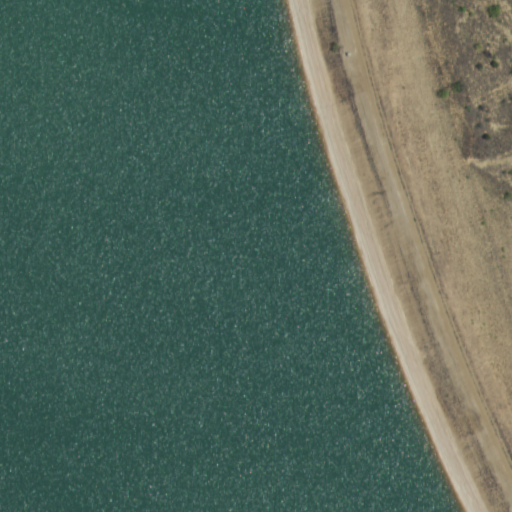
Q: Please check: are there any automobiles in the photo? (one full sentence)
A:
No, no automobile can be seen from above.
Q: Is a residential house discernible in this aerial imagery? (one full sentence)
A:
No, there's no residential house here.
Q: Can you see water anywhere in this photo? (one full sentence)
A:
Yes, there's water in this view.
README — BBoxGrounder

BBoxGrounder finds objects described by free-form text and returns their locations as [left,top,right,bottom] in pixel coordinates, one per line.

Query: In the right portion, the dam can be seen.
[286,0,509,512]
